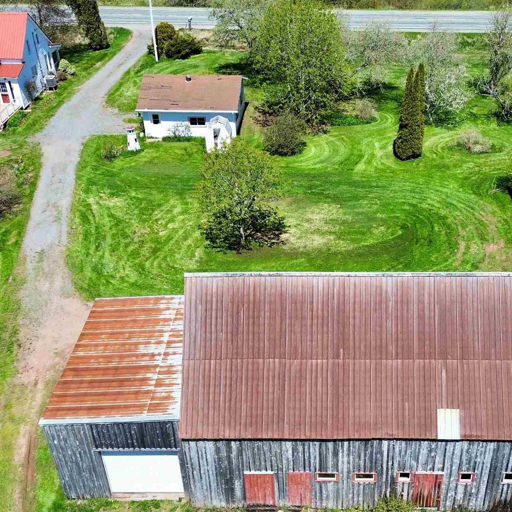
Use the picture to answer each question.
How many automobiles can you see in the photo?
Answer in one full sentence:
The picture shows no automobiles.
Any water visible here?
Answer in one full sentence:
No, there's no water in this view.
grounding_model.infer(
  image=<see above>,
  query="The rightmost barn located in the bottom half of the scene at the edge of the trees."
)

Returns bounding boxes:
[179,269,512,512]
